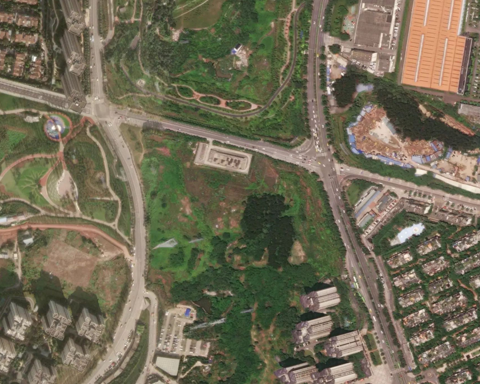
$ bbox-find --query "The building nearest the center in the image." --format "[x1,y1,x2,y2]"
[194,142,252,174]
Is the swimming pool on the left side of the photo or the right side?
right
